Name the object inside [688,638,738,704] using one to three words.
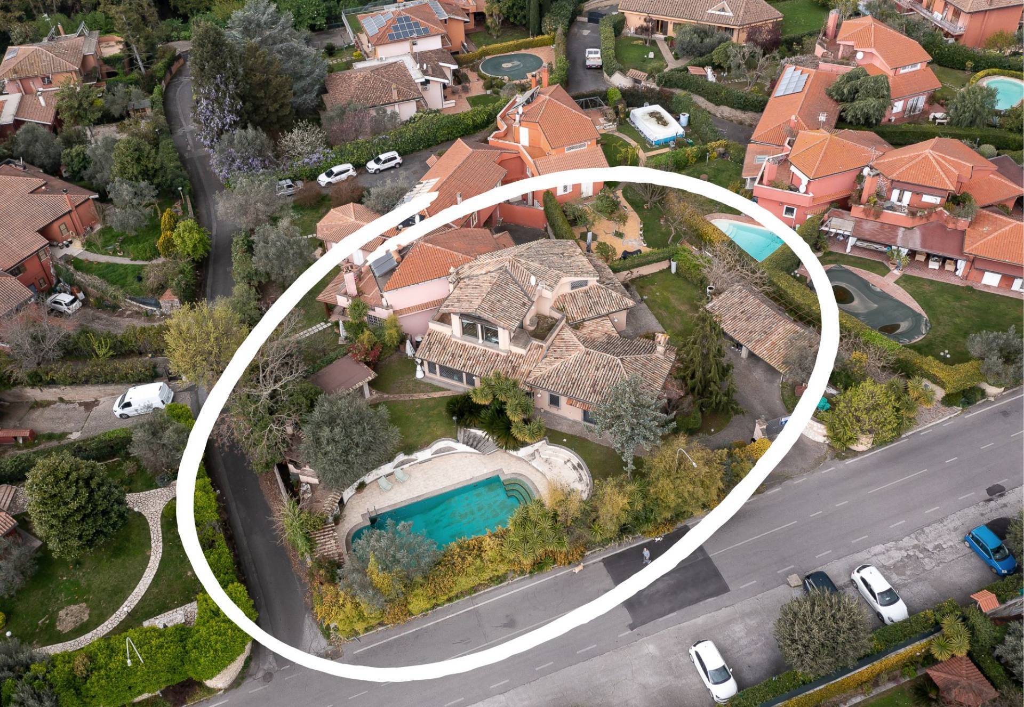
car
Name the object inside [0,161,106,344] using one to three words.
house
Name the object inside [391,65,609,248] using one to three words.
house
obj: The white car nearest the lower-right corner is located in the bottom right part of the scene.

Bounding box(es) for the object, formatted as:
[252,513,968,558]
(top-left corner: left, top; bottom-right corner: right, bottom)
[849,563,912,622]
